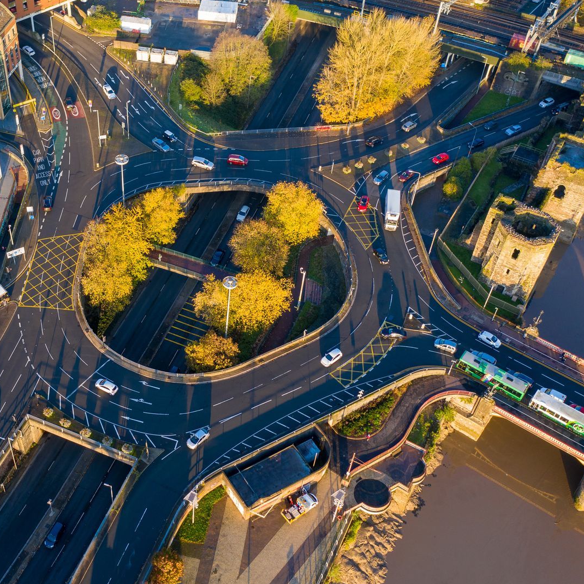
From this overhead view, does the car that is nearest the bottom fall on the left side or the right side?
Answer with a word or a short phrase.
left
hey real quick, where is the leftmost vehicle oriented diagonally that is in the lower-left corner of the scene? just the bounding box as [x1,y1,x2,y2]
[44,522,66,549]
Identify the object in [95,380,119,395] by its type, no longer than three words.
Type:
car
